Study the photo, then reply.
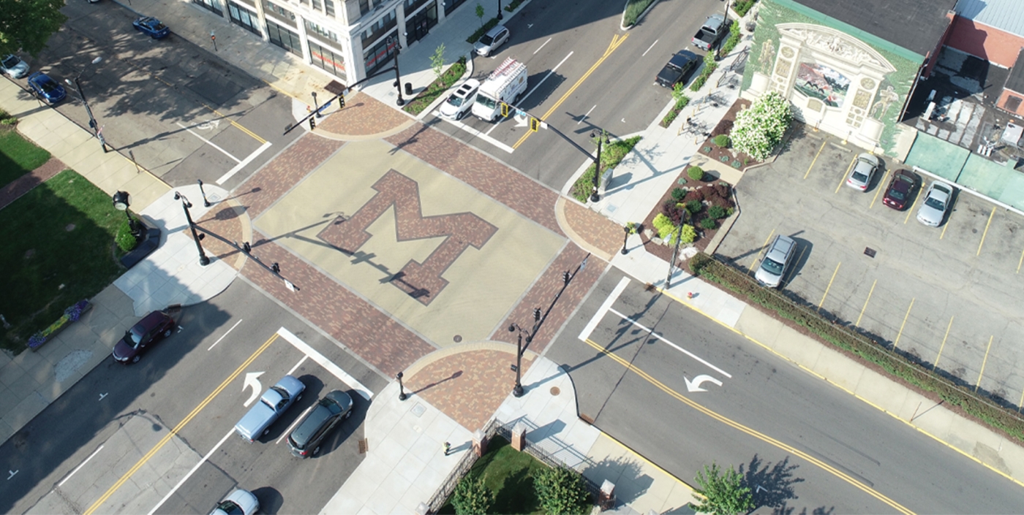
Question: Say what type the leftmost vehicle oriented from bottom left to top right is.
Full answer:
The leftmost vehicle oriented from bottom left to top right in the image is a car.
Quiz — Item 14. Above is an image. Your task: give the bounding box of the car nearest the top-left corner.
[0,53,32,82]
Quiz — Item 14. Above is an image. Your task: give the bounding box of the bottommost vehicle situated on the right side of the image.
[755,233,797,287]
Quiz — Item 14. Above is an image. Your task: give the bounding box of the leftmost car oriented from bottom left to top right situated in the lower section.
[112,309,180,368]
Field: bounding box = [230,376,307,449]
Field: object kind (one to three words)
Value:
truck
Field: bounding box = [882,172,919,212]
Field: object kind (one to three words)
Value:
car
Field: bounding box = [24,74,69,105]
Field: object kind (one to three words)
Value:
car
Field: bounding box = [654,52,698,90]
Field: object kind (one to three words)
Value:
truck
